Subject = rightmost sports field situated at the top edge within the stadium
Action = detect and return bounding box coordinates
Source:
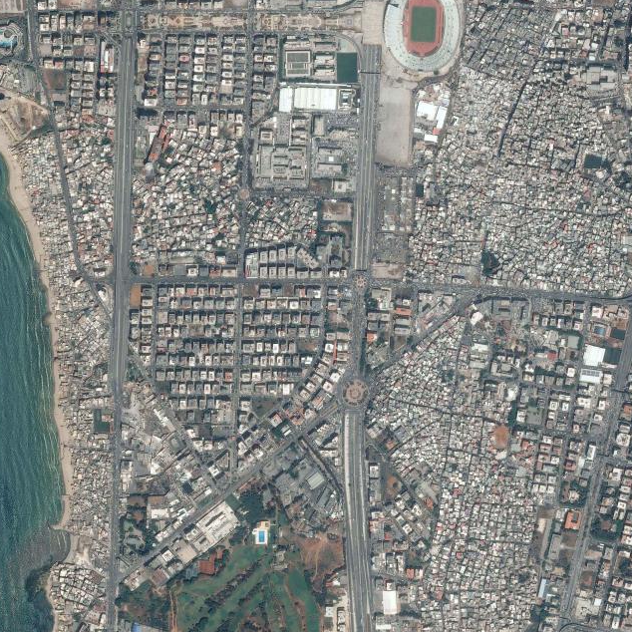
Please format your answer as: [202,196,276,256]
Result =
[411,6,436,41]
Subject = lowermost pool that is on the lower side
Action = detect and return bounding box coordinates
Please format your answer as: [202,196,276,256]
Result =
[256,528,269,544]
